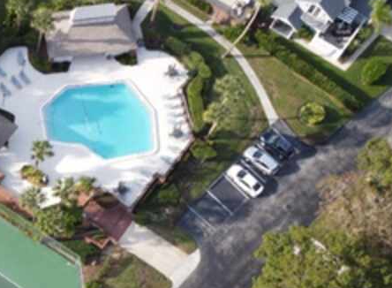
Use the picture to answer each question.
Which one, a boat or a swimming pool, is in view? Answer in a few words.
swimming pool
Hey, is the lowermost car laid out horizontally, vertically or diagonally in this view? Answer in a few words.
diagonally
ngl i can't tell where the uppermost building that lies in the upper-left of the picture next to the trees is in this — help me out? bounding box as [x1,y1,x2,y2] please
[35,0,138,65]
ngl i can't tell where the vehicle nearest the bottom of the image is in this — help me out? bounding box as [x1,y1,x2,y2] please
[226,168,264,199]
